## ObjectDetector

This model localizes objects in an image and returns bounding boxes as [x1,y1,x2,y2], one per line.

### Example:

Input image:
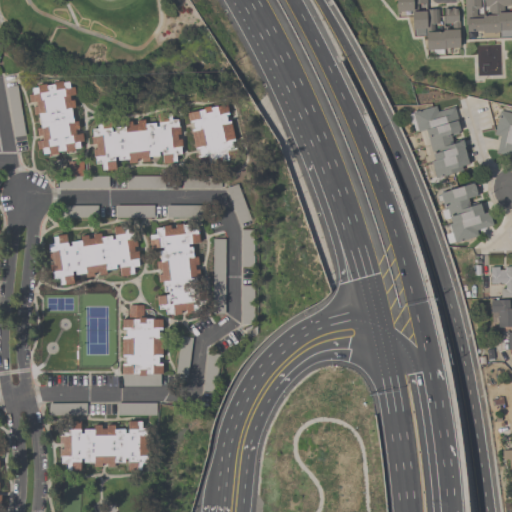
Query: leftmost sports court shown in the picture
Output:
[43,296,78,314]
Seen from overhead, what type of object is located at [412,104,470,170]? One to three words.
house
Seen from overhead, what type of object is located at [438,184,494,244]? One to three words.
house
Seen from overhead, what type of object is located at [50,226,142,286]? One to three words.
building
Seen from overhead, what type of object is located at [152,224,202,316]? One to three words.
building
